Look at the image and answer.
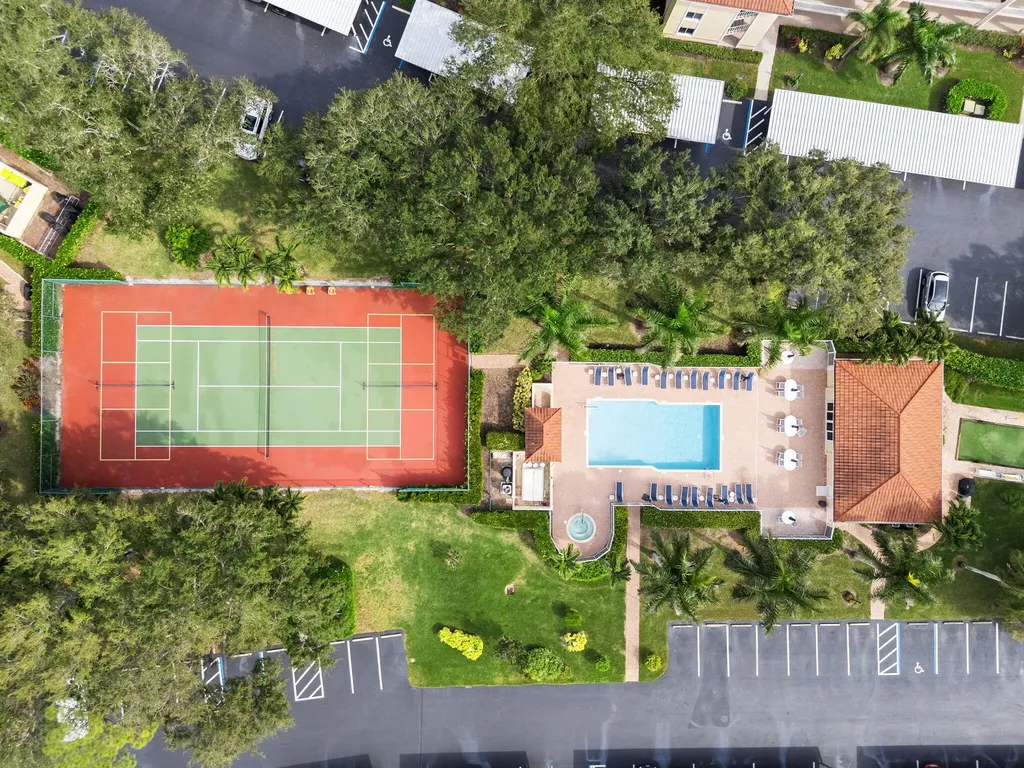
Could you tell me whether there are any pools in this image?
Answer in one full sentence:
Yes, looking at the shot, I can spot a pool.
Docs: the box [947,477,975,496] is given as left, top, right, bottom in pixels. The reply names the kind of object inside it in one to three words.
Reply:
umbrella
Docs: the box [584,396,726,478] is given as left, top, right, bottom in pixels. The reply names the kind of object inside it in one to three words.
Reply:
swimming pool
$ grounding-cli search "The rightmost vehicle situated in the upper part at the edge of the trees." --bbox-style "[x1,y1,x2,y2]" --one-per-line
[916,270,949,323]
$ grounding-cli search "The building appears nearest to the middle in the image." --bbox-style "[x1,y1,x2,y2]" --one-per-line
[524,407,563,463]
